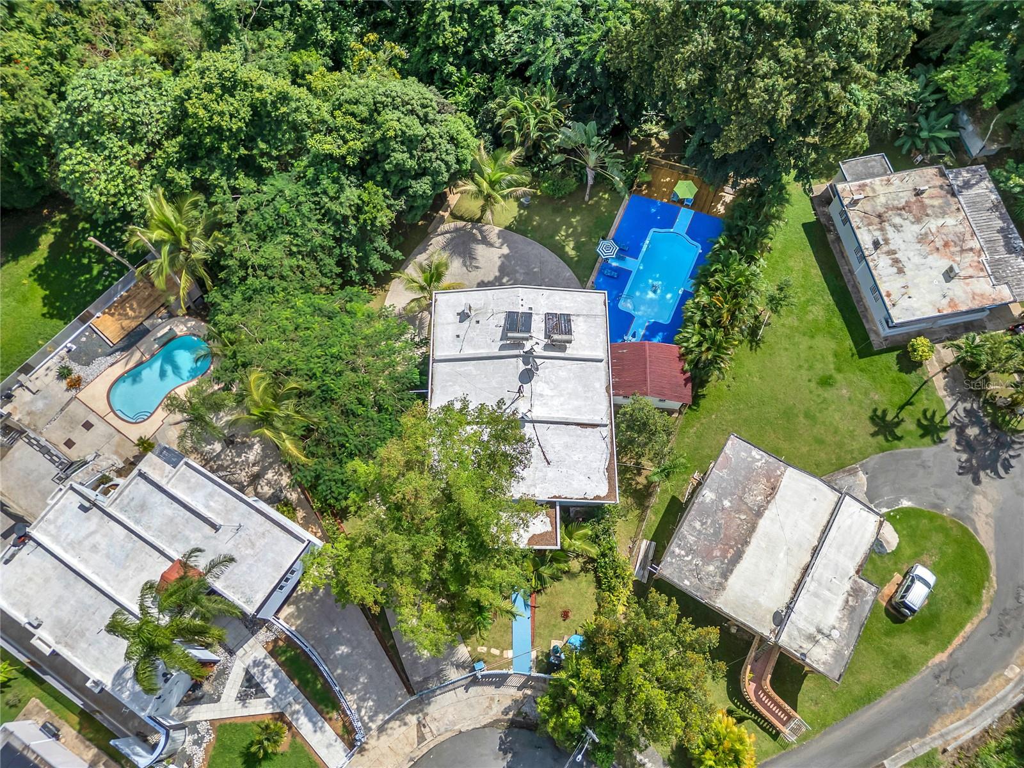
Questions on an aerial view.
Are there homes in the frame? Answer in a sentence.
Yes, the picture does show a home.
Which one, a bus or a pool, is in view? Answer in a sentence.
It is a pool that can be seen here.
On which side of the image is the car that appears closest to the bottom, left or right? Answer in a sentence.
The car that appears closest to the bottom sits on the right side.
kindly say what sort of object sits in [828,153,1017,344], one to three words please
house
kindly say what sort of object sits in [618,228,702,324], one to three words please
swimming pool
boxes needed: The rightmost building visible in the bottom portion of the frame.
[657,434,886,685]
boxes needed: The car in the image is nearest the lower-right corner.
[889,560,942,623]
